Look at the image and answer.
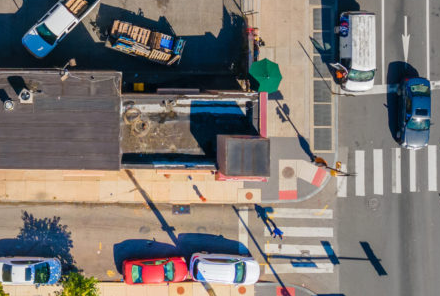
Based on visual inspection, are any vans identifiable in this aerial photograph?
Yes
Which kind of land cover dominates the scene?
paved ground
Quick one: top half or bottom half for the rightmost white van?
top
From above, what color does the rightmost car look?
blue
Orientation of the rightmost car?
vertically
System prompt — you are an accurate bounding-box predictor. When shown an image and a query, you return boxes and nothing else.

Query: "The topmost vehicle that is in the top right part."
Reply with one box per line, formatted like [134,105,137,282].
[327,10,378,92]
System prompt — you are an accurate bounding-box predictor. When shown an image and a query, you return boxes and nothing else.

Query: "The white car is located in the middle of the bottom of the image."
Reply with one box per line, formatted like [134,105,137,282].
[188,251,259,287]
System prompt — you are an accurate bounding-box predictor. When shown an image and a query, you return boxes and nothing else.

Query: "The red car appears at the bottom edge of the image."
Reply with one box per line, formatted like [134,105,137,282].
[121,254,188,287]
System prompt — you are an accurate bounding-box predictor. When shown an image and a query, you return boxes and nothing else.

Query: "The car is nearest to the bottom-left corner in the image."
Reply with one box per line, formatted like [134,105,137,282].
[0,255,62,288]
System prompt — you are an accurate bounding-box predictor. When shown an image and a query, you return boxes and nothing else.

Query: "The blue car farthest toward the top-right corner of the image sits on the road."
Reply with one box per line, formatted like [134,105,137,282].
[395,77,434,148]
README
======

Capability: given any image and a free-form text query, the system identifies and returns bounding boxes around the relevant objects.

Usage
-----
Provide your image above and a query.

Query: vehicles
[22,0,99,58]
[188,251,259,287]
[395,77,434,148]
[121,254,188,287]
[327,10,378,92]
[0,255,62,288]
